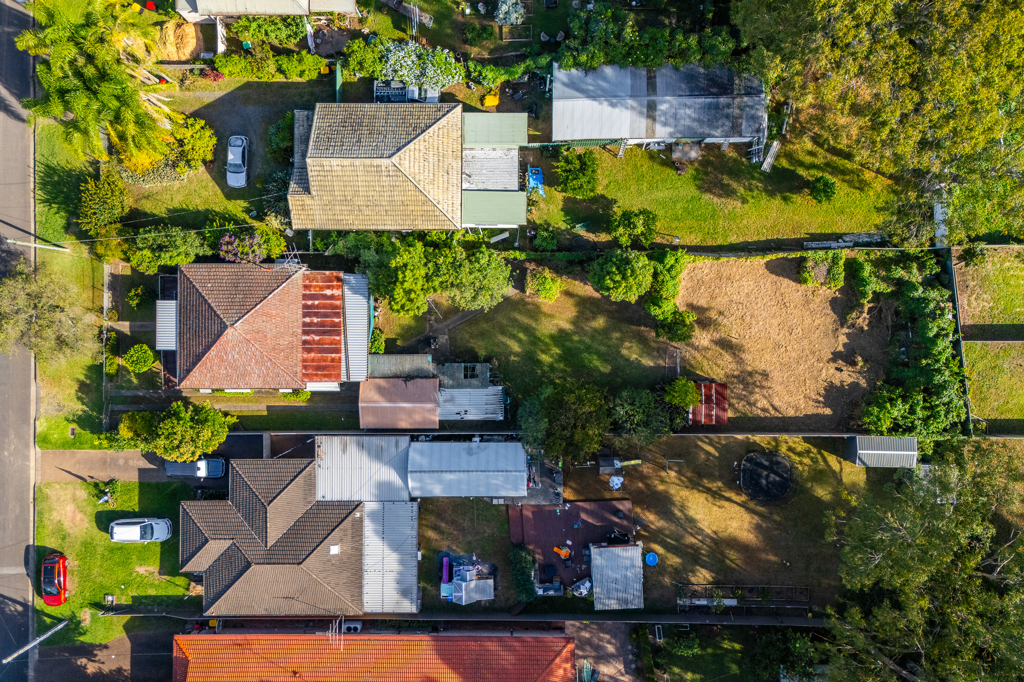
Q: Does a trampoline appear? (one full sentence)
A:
Yes, there is a trampoline in the image.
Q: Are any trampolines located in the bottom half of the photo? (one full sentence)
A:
Yes, the scene does show a trampoline in the bottom half of the photo.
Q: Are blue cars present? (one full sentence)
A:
Yes, you can see a blue car in this photo.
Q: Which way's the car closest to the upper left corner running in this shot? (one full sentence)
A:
From this overhead view, the car closest to the upper left corner appears to run vertically.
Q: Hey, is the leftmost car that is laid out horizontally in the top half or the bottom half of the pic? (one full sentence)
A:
It is in the bottom half that the leftmost car that is laid out horizontally appears.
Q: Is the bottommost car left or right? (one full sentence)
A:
The bottommost car appears in the left half of the scene.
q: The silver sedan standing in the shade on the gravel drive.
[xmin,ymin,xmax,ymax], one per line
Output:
[223,135,250,188]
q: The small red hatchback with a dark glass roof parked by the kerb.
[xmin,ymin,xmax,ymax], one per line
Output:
[37,553,68,604]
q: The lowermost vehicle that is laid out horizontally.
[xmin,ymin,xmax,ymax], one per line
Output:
[110,517,172,545]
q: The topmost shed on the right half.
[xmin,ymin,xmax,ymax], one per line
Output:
[552,63,769,149]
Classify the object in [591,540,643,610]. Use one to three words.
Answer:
shed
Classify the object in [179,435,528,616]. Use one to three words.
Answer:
house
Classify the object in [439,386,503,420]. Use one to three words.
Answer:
shed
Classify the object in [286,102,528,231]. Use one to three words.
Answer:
house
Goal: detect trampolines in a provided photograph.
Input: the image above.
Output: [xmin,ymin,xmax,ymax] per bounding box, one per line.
[737,451,800,503]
